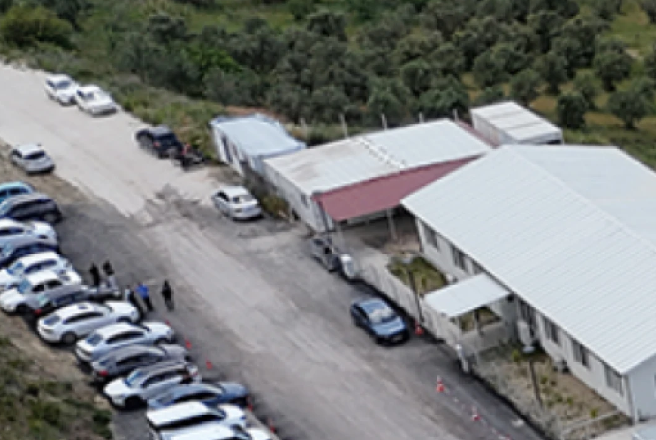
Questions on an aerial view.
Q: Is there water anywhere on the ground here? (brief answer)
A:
No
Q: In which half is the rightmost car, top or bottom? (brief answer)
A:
bottom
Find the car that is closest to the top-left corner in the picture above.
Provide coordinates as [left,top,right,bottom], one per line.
[37,76,83,111]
